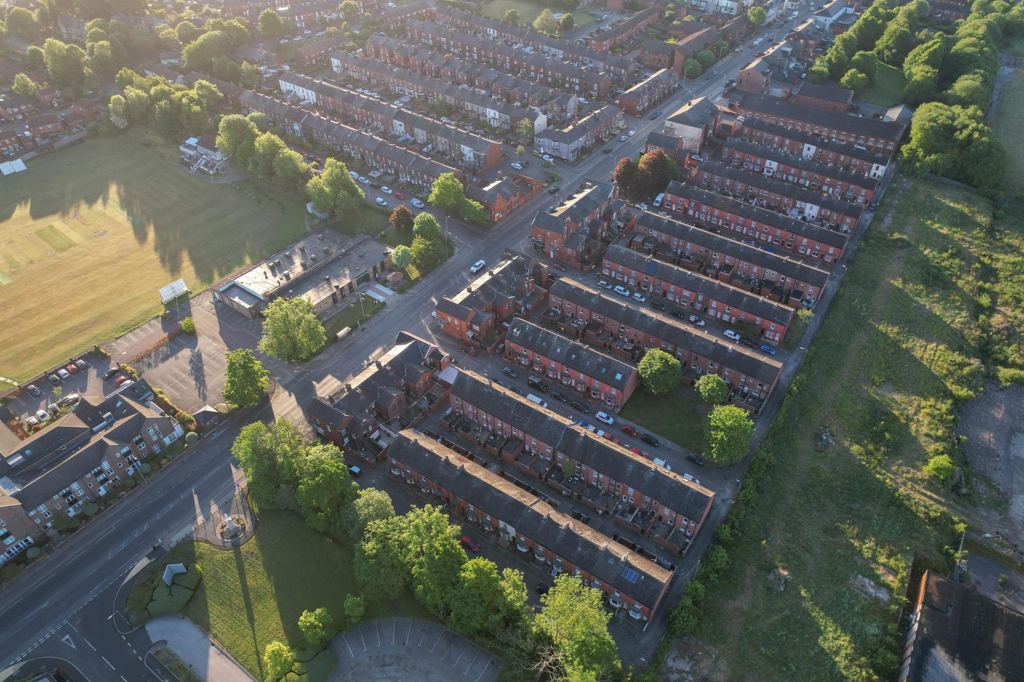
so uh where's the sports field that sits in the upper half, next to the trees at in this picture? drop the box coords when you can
[0,122,308,391]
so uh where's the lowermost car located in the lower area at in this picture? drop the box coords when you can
[532,579,548,595]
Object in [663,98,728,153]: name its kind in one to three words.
building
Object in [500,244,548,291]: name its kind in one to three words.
house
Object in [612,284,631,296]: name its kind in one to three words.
vehicle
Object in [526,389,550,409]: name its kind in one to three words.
vehicle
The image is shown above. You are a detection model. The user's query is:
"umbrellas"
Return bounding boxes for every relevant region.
[385,270,403,283]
